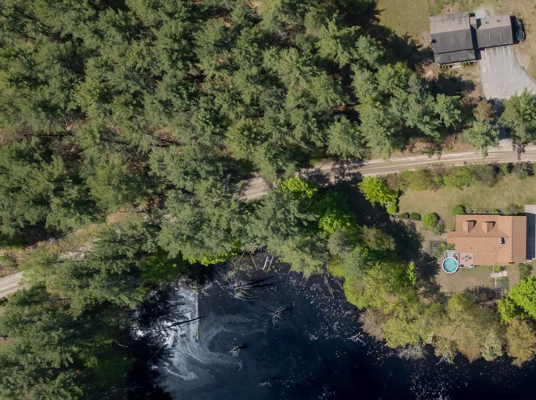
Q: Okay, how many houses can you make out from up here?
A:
2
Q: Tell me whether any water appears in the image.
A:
Yes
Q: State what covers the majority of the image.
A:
trees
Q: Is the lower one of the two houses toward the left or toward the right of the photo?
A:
right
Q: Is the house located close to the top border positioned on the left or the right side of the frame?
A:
right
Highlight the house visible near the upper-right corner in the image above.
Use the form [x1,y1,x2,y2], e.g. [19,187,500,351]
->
[429,15,515,71]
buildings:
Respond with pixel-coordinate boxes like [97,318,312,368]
[447,214,527,265]
[429,15,515,71]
